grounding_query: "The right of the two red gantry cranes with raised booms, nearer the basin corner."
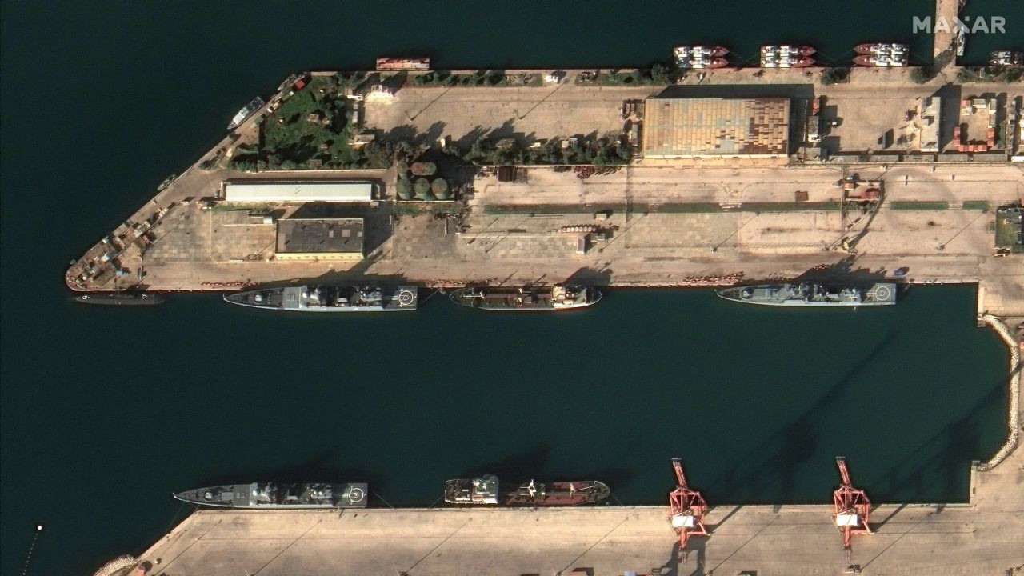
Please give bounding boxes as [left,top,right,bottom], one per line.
[835,462,874,565]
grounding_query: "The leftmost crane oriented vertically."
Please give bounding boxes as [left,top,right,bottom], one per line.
[671,463,710,566]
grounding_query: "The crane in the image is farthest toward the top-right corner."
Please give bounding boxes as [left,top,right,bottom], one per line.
[839,191,876,257]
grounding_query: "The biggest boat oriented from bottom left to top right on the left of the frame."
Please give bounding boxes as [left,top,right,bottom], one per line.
[228,97,265,129]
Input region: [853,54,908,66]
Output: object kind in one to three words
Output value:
boat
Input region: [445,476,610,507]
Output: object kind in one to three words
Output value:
ship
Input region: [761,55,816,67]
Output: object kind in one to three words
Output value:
boat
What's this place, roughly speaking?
port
